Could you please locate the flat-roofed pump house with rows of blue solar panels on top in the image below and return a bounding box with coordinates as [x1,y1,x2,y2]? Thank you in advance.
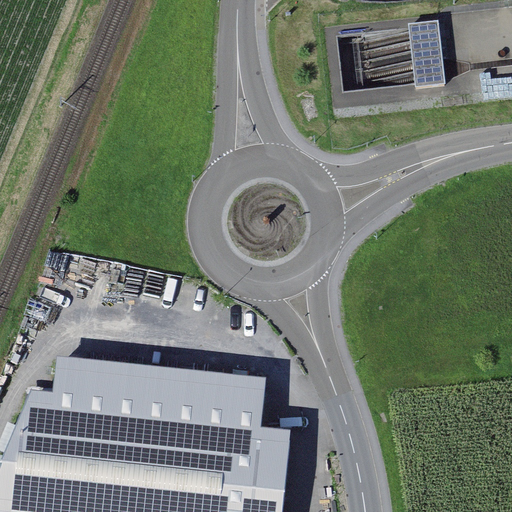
[408,20,445,88]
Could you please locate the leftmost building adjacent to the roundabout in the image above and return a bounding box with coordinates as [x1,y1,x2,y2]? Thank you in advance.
[0,356,290,512]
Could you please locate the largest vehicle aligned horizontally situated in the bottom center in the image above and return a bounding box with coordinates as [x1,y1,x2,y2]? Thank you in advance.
[279,416,309,429]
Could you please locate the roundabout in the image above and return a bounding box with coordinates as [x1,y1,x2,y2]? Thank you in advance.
[188,143,346,301]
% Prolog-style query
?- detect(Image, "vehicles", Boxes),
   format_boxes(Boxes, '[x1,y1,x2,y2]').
[40,288,72,310]
[279,416,309,429]
[230,306,242,330]
[194,288,204,312]
[162,277,178,309]
[244,312,255,336]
